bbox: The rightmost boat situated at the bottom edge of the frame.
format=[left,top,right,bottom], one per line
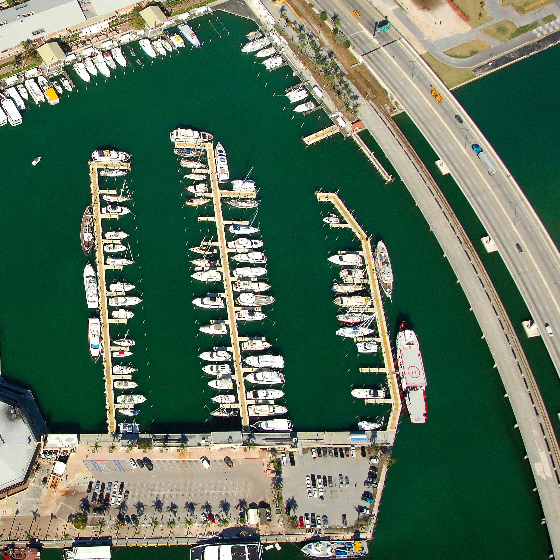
[302,541,370,558]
